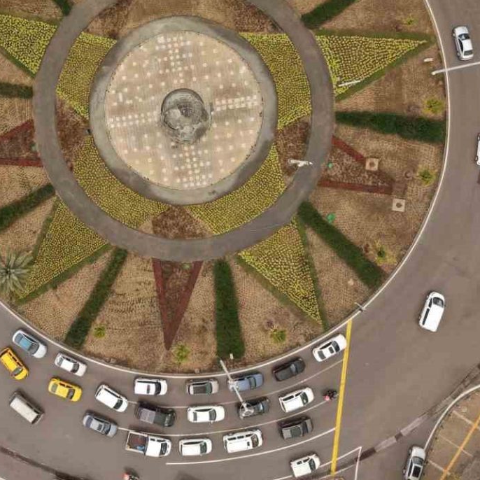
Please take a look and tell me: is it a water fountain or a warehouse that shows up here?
water fountain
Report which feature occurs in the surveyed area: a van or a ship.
van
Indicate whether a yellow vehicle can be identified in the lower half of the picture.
Yes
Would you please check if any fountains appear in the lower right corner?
No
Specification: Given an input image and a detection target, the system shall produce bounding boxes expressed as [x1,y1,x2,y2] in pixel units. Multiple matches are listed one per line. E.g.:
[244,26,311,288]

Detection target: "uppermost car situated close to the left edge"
[11,328,48,359]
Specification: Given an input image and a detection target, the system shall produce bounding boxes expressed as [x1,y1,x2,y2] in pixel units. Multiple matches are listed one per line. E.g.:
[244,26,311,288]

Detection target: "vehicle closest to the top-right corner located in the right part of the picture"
[453,27,473,60]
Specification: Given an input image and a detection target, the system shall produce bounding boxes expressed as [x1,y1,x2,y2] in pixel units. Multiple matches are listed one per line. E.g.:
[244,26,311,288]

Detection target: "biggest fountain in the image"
[89,16,278,205]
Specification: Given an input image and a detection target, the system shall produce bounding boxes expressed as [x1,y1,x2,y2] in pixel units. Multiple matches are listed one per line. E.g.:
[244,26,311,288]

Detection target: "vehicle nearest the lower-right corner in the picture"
[404,444,426,480]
